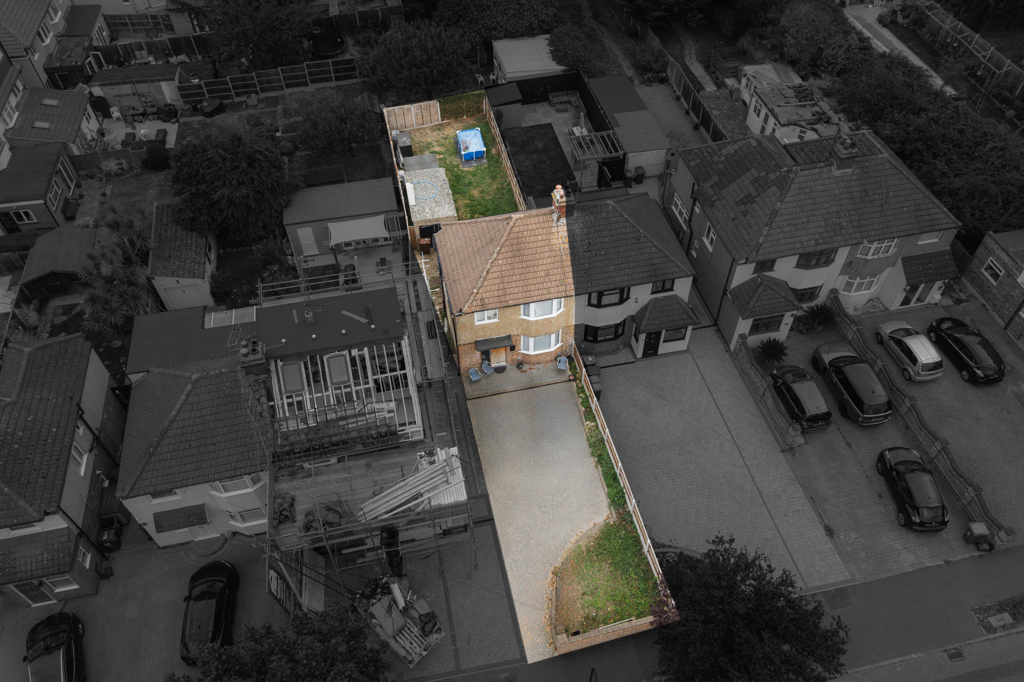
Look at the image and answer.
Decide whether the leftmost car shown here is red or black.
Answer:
black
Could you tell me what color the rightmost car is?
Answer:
black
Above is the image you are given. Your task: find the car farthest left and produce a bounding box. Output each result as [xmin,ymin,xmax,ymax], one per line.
[17,613,84,682]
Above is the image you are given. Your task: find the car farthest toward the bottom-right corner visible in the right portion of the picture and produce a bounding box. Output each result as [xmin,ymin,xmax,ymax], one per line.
[877,448,955,541]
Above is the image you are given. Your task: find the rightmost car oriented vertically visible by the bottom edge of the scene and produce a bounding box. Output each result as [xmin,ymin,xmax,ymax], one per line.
[175,560,238,680]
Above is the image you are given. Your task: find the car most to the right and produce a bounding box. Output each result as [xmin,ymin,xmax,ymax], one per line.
[929,317,1011,391]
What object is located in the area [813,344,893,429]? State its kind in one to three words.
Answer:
car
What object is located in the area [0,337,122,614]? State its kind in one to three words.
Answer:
house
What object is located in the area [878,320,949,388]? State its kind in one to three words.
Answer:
car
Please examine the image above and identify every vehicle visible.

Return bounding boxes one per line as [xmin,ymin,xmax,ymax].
[878,320,949,388]
[175,560,238,680]
[929,317,1011,391]
[772,354,836,428]
[877,448,955,541]
[17,613,84,682]
[813,344,893,429]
